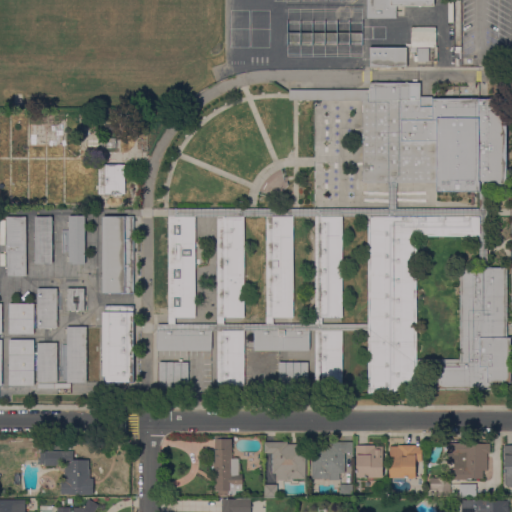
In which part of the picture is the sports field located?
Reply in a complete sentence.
The sports field is located in the top left region of the scene.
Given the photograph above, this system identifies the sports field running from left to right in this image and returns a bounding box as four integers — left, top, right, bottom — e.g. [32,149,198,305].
[0,0,226,106]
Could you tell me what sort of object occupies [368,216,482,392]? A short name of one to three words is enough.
building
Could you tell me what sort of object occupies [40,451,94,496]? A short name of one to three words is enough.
house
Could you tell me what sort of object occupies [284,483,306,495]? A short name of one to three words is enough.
swimming pool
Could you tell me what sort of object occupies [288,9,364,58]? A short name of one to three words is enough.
sports court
